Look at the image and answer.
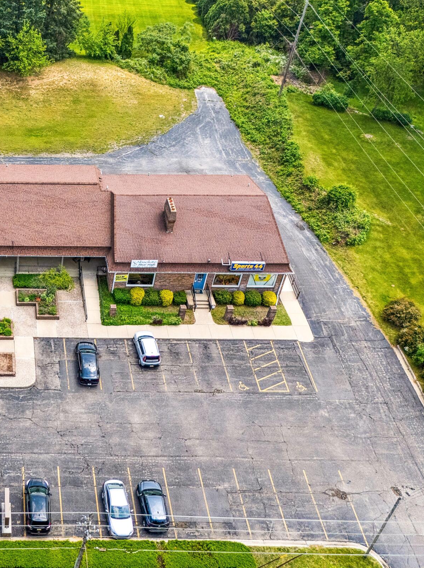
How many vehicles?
5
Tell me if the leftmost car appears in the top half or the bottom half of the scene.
bottom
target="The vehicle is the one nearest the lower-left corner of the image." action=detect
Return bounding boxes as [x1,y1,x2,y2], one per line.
[24,479,54,536]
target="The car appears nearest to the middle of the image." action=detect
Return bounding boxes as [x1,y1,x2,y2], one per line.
[133,332,162,368]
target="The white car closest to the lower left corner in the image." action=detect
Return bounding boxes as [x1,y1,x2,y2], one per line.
[102,479,135,540]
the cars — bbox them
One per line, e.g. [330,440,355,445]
[133,332,162,368]
[102,479,135,540]
[76,342,102,387]
[24,479,54,536]
[137,481,171,533]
